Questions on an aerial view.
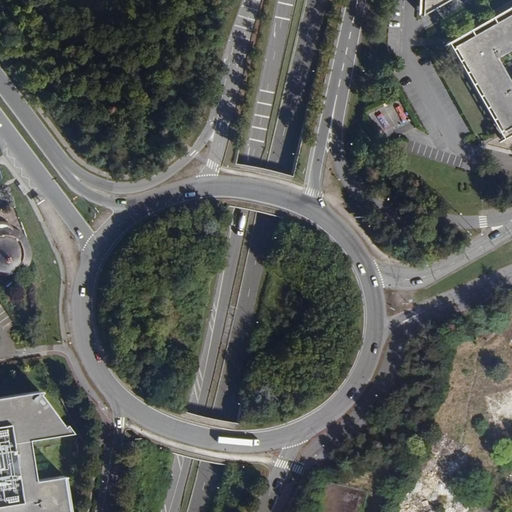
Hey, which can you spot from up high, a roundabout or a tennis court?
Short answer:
roundabout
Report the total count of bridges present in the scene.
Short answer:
2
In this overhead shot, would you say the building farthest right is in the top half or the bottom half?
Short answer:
top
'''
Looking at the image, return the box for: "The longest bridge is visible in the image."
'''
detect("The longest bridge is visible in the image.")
[130,412,275,466]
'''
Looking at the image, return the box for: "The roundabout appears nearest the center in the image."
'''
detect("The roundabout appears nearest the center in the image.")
[72,174,388,452]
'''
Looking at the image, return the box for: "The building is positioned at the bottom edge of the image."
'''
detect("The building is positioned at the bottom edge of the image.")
[0,390,78,512]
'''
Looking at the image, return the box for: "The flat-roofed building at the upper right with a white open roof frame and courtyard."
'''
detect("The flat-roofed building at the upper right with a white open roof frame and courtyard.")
[449,8,512,140]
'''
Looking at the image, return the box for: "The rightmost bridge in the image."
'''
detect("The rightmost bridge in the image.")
[212,164,301,218]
